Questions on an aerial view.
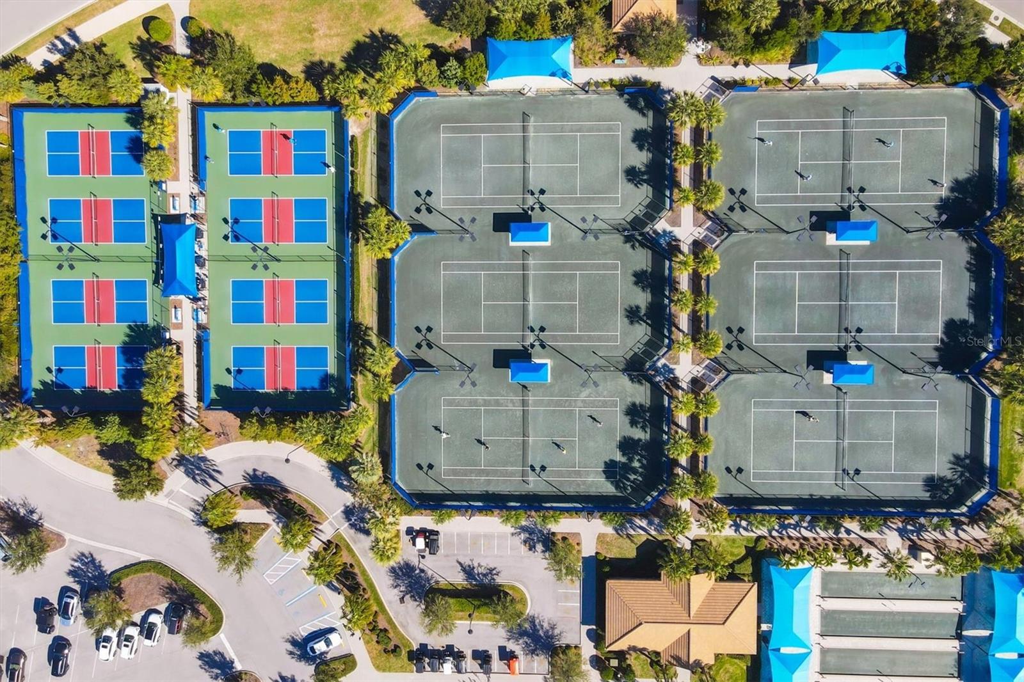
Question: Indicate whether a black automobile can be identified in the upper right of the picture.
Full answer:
No, no black automobile is visible in the upper right of the picture.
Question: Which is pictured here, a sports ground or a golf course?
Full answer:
The area seen from above is a sports ground.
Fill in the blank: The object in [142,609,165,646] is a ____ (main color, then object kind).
white car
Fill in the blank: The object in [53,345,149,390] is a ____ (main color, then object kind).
blue sports court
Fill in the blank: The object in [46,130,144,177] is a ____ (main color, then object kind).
blue sports court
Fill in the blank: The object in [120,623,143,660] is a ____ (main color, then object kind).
white car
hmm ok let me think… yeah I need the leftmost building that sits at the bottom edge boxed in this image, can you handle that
[605,567,759,671]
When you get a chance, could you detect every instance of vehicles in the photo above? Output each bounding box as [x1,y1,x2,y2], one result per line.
[164,599,186,635]
[416,530,427,551]
[510,652,519,674]
[120,623,143,660]
[98,625,121,662]
[142,609,165,646]
[483,654,493,676]
[415,652,426,675]
[58,590,81,626]
[0,533,14,567]
[429,533,440,554]
[307,629,343,655]
[50,638,74,675]
[444,653,454,676]
[457,651,467,674]
[430,650,441,672]
[34,601,59,634]
[4,650,28,682]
